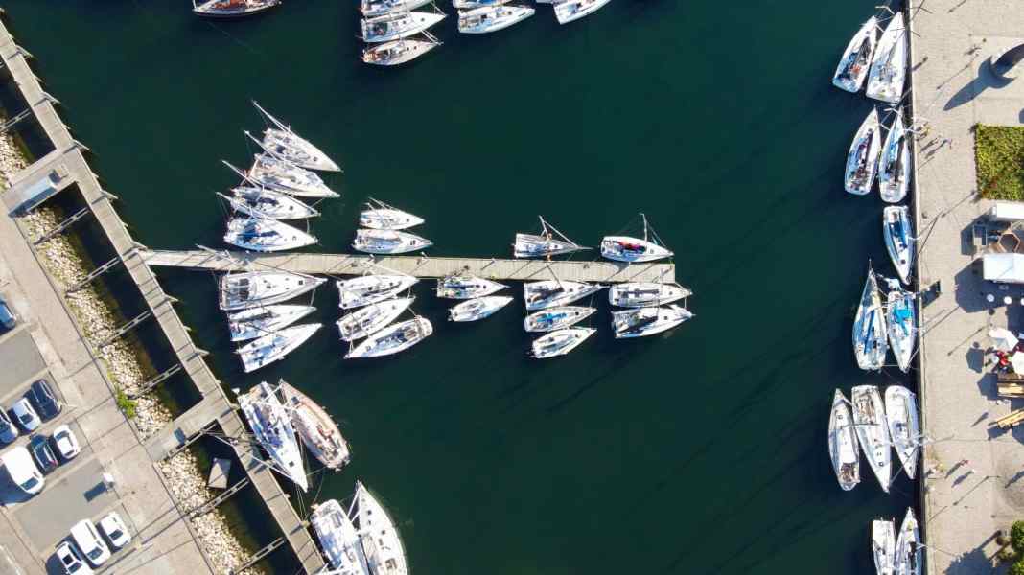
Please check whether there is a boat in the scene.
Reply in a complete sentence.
Yes, the picture does show a boat.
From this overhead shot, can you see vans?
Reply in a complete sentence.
Yes, the picture does show a van.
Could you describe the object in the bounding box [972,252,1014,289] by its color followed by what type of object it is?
white gazebo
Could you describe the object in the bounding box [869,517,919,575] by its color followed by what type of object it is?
white boat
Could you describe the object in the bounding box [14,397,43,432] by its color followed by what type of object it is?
white car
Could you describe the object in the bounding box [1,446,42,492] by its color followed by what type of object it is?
white van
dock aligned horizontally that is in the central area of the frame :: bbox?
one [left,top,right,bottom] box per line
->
[142,251,675,283]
